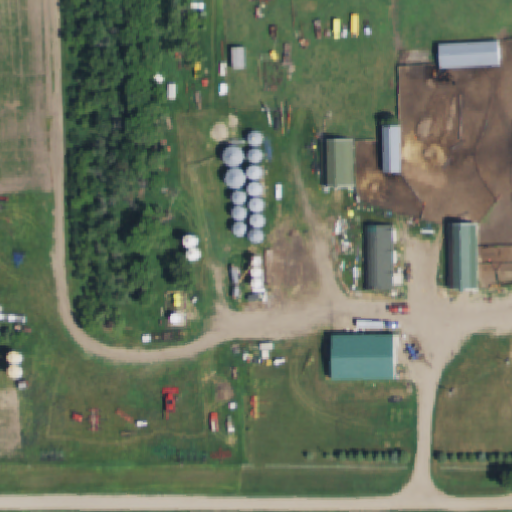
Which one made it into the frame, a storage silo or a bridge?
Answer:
storage silo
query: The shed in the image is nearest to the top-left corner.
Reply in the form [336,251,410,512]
[232,46,245,70]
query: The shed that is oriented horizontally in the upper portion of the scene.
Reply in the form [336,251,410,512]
[438,40,500,70]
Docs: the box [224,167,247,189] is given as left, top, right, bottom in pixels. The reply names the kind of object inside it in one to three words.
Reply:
silo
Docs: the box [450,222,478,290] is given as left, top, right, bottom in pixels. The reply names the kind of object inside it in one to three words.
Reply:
barn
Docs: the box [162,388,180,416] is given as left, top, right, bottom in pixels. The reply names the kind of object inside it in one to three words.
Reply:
work vehicle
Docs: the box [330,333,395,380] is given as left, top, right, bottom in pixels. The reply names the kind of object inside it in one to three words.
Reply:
shed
